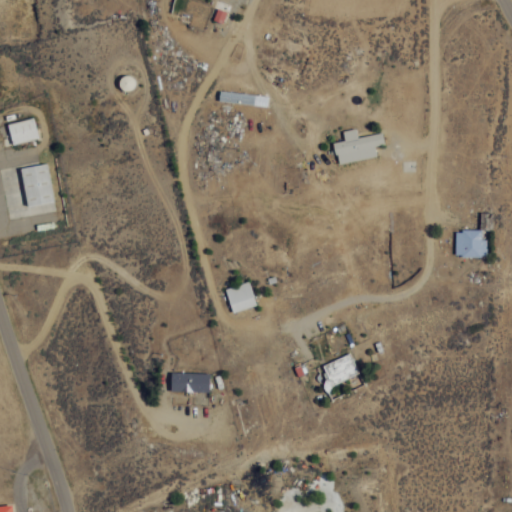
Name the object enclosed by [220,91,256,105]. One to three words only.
barn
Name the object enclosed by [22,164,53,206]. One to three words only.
building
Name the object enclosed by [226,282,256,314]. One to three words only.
house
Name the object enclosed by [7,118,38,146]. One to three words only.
shed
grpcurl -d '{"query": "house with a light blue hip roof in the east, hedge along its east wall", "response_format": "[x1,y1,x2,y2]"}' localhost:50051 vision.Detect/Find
[458,230,488,258]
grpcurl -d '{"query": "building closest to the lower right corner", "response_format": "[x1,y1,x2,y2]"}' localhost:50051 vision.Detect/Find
[322,354,359,392]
